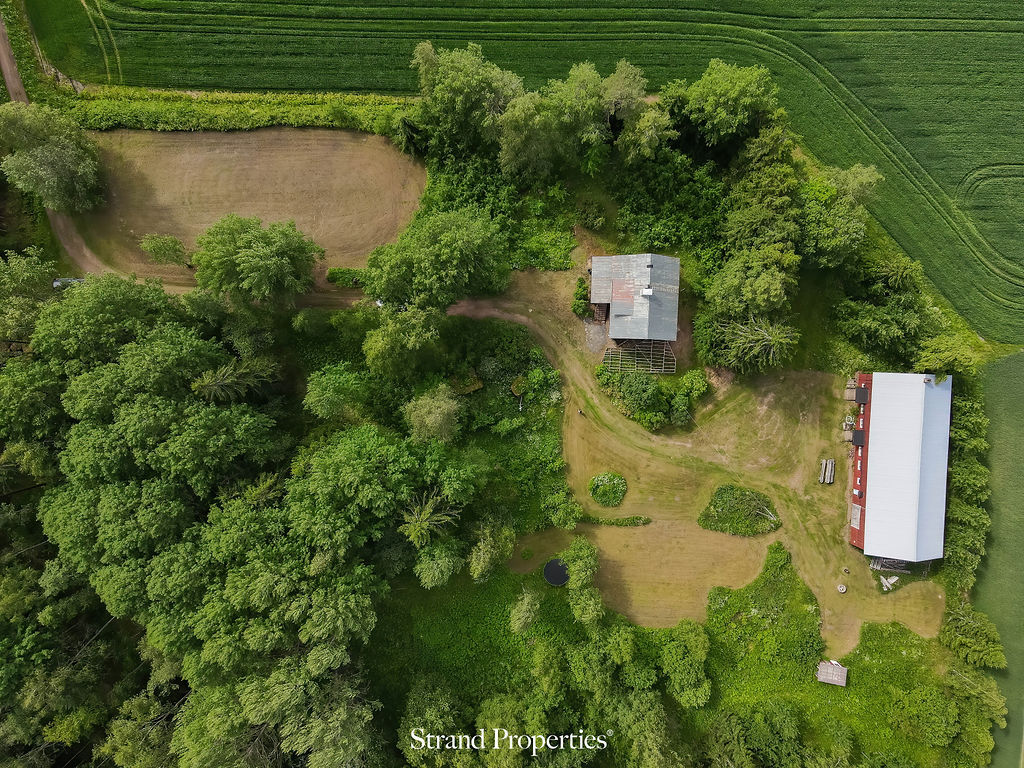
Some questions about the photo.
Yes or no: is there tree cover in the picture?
Yes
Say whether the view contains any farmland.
Yes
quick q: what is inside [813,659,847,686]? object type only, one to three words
shed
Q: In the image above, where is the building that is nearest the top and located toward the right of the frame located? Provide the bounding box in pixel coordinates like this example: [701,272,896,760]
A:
[590,253,679,342]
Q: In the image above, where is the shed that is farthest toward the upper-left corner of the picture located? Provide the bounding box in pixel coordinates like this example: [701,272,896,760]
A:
[452,372,484,394]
